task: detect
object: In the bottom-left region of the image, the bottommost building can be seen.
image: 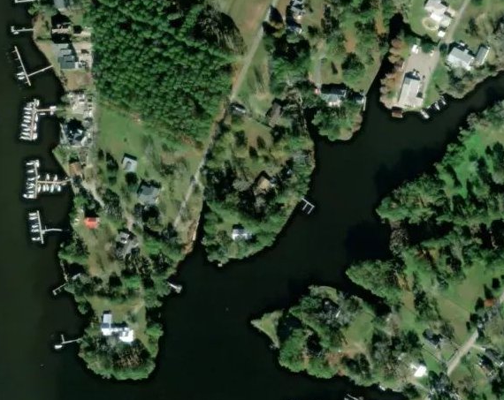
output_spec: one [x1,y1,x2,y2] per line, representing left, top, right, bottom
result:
[101,309,135,343]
